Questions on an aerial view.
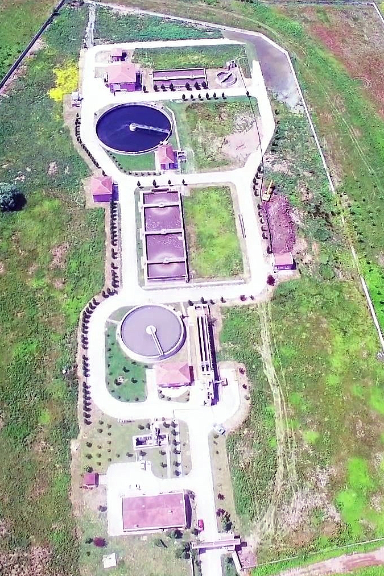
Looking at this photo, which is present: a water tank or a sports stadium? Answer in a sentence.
Of the two, only a water tank appears.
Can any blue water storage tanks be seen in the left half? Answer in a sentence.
Yes, the scene does show a blue water storage tank in the left half.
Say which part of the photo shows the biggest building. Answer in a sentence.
The biggest building sits in the bottom section of the image.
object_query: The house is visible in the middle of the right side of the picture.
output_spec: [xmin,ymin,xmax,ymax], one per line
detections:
[271,253,292,270]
